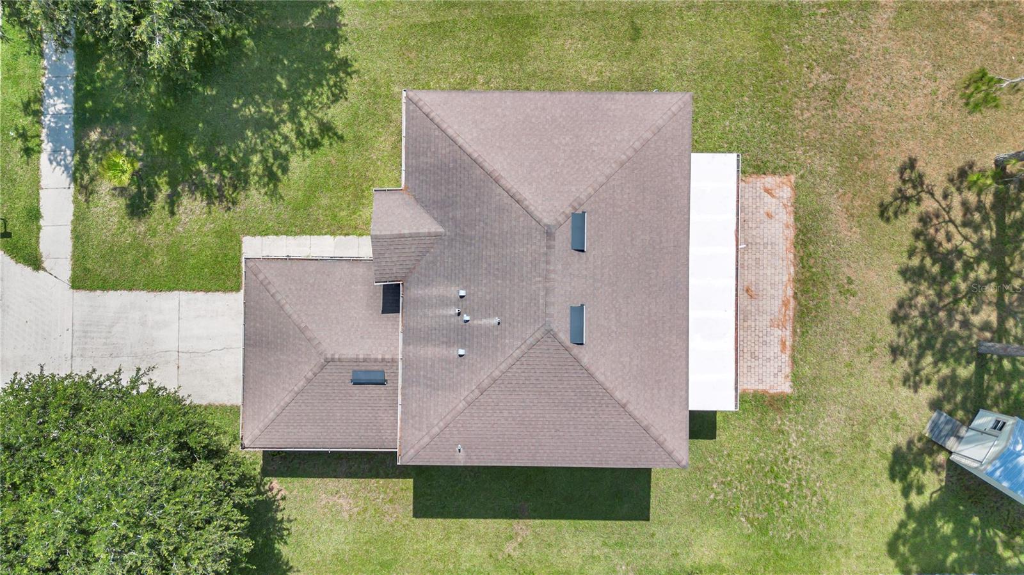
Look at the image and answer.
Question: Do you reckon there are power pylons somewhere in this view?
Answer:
No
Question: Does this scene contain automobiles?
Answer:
No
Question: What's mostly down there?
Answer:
grass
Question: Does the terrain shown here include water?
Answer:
No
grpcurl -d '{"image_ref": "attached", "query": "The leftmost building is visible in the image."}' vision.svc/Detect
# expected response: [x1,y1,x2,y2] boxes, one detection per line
[241,88,746,468]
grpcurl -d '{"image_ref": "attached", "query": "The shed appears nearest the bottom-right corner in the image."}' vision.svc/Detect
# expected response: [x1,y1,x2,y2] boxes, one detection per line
[950,408,1024,504]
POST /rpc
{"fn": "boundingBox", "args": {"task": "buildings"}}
[241,88,746,468]
[950,408,1024,504]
